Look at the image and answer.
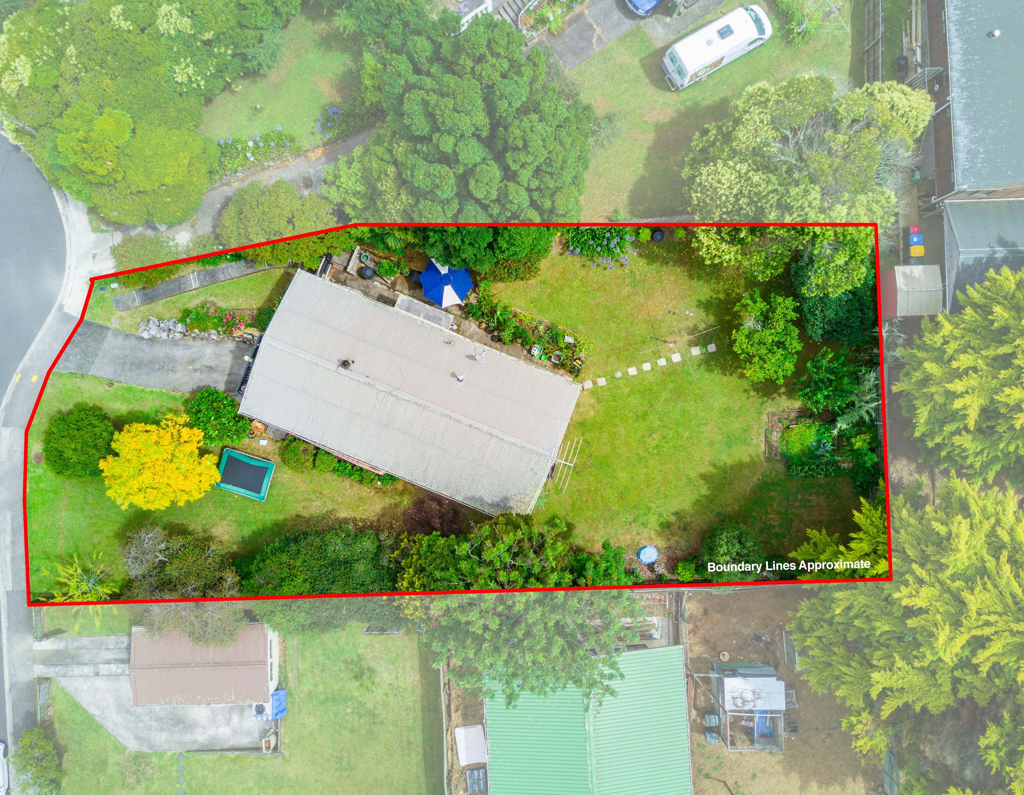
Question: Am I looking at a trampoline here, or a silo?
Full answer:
I can see a trampoline in this picture.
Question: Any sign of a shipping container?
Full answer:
No, the scene contains no shipping container.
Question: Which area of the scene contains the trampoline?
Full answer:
The trampoline appears toward the left of the photo.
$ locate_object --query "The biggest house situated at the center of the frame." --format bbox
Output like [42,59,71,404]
[227,265,583,527]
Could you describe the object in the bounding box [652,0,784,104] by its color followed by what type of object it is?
white van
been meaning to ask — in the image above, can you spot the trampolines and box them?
[216,448,278,500]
